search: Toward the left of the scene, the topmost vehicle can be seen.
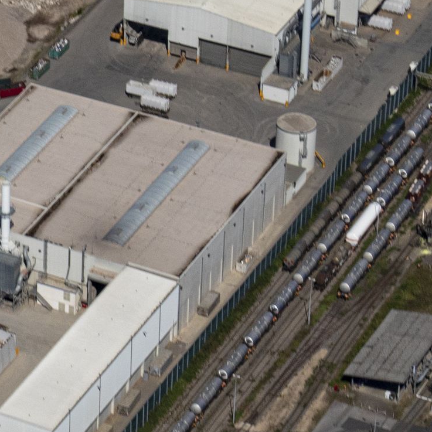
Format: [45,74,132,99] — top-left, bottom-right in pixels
[104,21,132,46]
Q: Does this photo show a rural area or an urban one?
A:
urban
